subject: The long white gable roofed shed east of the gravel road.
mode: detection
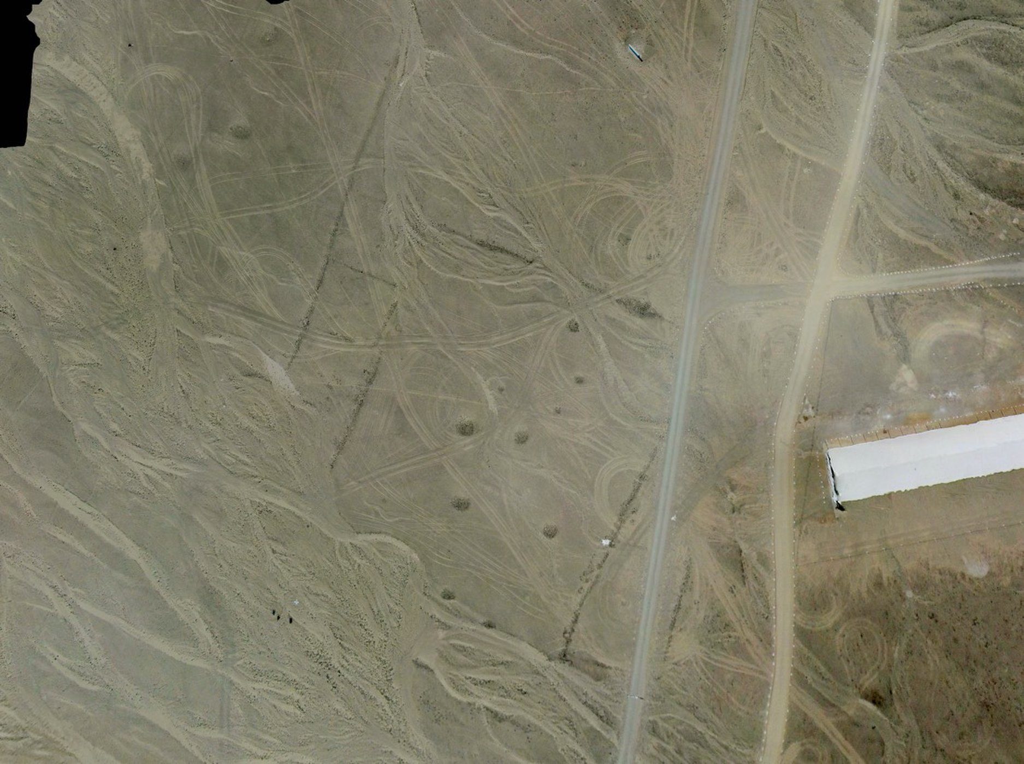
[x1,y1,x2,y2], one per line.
[823,414,1024,501]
